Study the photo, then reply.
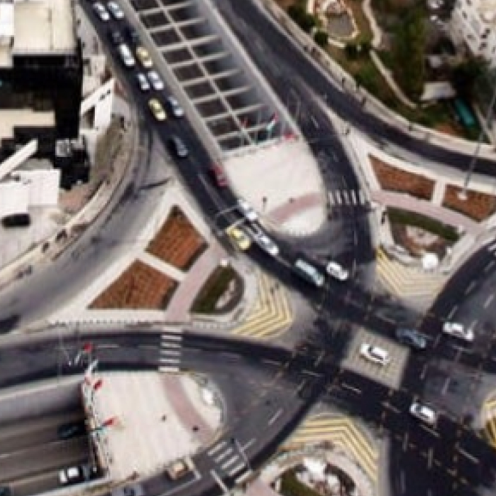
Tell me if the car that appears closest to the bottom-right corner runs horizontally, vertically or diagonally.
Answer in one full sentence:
Seen from above, the car that appears closest to the bottom-right corner lies diagonally.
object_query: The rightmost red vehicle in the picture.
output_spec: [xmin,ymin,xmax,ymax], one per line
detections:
[207,163,231,188]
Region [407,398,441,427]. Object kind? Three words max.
car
